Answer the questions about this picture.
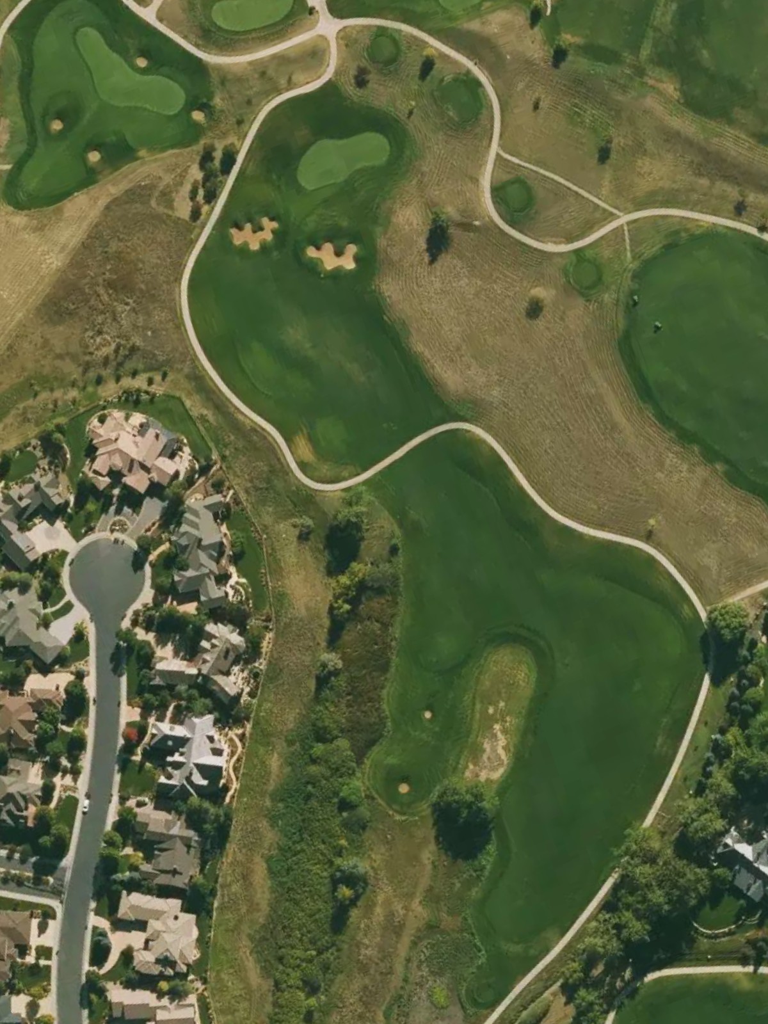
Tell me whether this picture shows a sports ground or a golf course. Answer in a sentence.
It's a golf course.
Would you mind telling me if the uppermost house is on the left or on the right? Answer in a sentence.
The uppermost house appears in the left half of the scene.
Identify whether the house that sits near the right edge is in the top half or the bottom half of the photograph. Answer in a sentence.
It is in the bottom half that the house that sits near the right edge appears.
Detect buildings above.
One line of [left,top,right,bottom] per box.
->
[116,894,201,979]
[151,620,245,702]
[149,713,226,803]
[109,992,196,1024]
[0,912,30,982]
[89,412,180,493]
[0,688,63,750]
[171,491,227,610]
[0,759,41,828]
[715,830,768,903]
[133,812,196,891]
[0,580,62,665]
[0,996,22,1024]
[0,476,60,570]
